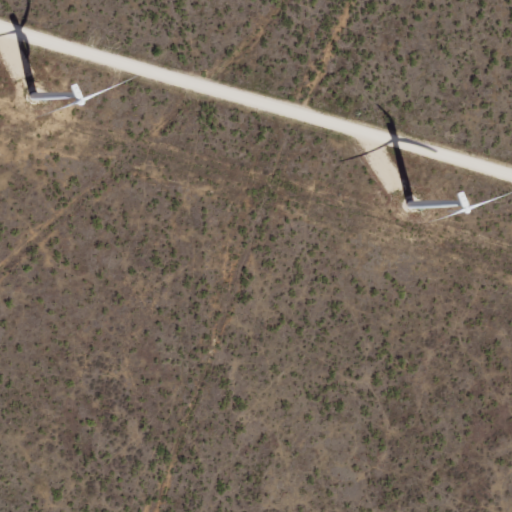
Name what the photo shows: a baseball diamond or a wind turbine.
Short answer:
wind turbine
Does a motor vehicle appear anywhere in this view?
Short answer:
No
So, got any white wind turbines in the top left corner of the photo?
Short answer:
Yes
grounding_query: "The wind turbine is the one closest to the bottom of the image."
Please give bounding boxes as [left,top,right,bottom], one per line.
[405,192,512,224]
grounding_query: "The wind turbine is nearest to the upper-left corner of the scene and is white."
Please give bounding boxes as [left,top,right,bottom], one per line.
[26,76,136,118]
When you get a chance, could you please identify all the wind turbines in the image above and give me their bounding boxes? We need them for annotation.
[405,192,512,224]
[26,76,136,118]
